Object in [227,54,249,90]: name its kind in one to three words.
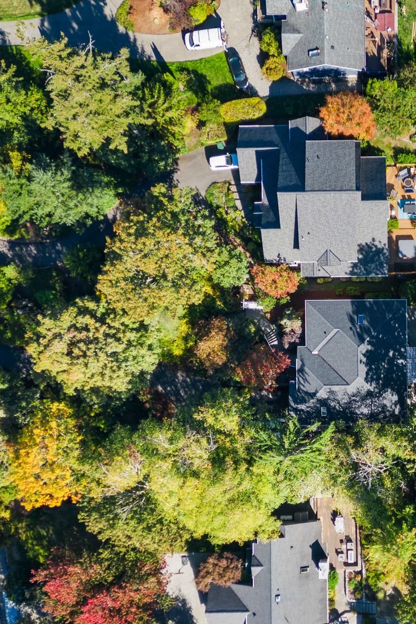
car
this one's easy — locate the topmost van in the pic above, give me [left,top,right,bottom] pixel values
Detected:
[183,22,229,50]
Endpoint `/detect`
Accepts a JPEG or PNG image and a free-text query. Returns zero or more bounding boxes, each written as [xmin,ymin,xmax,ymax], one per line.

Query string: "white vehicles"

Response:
[183,22,229,50]
[212,154,237,171]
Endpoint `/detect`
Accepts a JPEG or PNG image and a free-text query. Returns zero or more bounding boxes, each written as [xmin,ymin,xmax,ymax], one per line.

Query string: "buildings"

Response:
[235,115,387,278]
[264,0,366,78]
[289,299,408,425]
[203,516,331,624]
